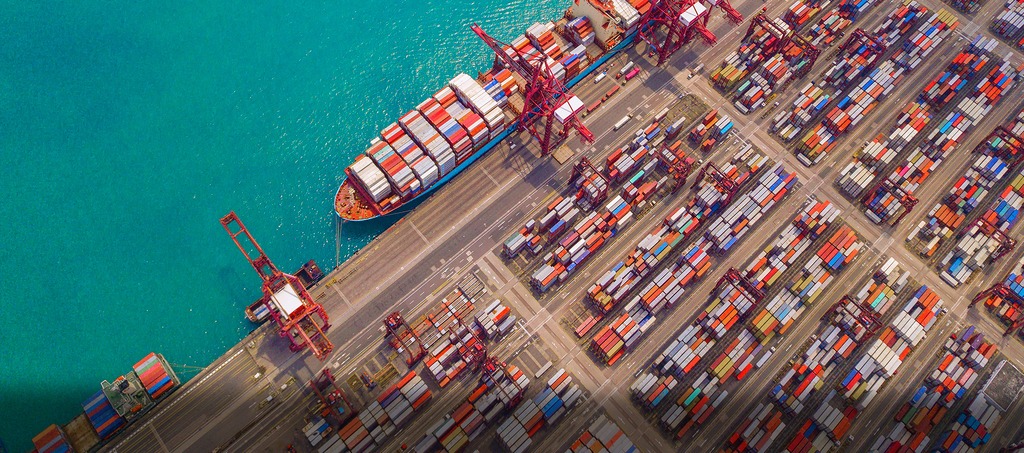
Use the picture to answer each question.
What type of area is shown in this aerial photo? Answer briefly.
port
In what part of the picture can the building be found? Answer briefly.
bottom right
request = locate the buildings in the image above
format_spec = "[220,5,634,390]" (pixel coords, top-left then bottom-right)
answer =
[972,360,1024,412]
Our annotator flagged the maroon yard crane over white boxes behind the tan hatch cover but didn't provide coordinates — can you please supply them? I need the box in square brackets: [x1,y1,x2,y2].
[570,159,612,207]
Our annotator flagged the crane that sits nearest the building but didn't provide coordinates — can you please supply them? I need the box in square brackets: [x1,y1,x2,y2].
[967,285,1024,333]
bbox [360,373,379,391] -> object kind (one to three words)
work vehicle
